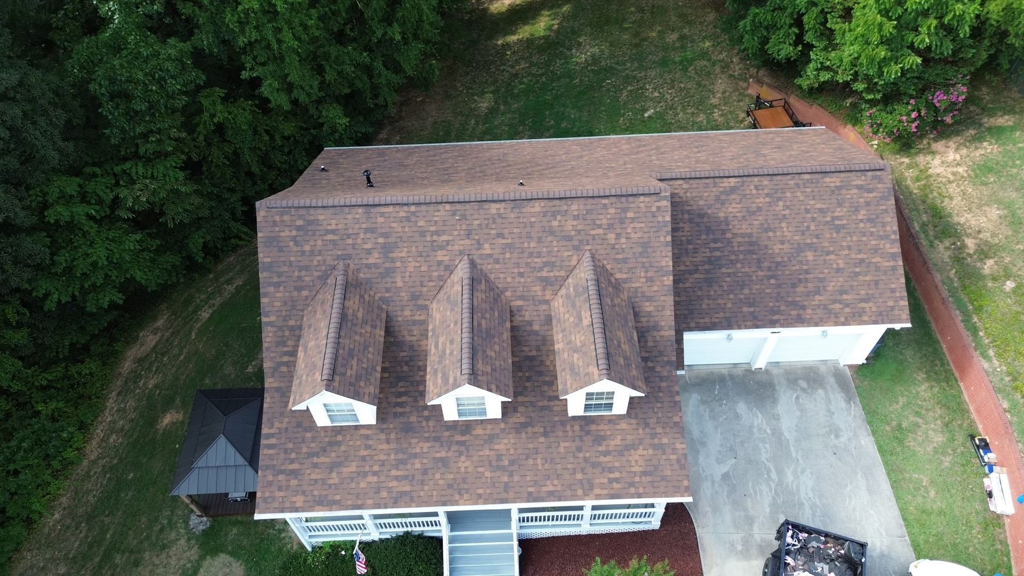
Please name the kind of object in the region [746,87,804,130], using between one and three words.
trailer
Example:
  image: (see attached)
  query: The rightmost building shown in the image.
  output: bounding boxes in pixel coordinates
[254,127,911,576]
